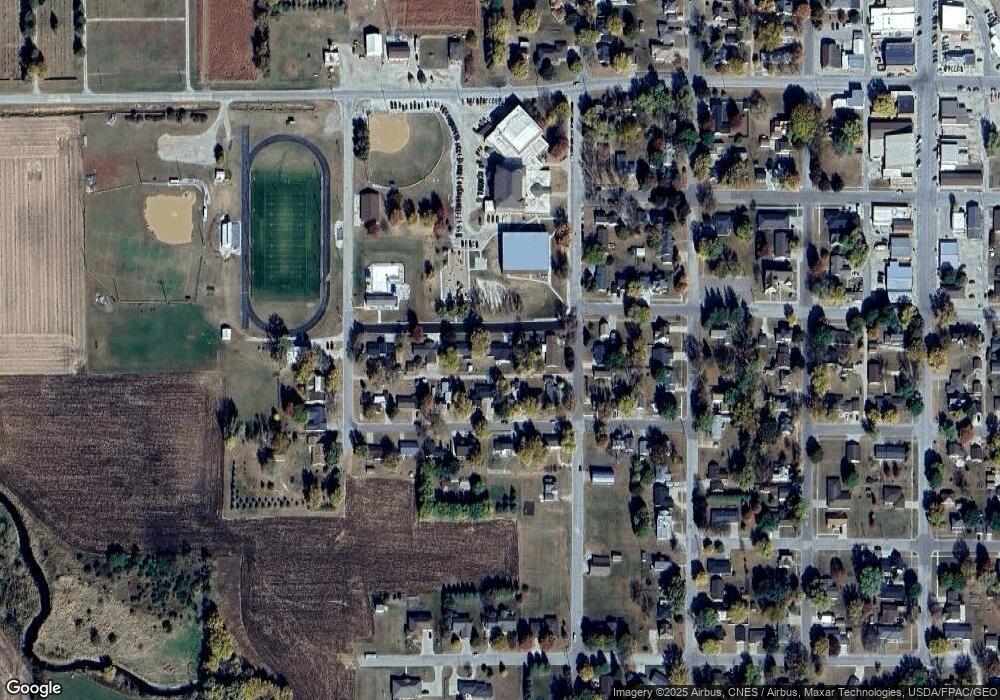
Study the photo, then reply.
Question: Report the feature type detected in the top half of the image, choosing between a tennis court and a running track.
running track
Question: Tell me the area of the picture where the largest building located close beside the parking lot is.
top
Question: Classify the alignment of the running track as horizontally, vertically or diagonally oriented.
vertically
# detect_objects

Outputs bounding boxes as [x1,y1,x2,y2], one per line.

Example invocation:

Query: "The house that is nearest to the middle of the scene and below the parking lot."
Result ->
[490,342,513,364]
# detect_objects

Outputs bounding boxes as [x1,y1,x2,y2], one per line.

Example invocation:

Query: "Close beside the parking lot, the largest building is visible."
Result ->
[485,105,551,214]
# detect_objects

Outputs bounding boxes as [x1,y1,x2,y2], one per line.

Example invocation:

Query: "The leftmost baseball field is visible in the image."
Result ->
[145,191,195,244]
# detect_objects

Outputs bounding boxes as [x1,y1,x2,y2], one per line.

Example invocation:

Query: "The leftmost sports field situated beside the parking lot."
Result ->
[252,142,322,328]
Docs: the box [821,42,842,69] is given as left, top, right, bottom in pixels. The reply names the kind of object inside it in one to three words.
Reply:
building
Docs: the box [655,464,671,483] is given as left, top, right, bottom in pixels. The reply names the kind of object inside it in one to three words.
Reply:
house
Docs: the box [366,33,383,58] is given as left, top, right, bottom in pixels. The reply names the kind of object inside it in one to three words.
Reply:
barn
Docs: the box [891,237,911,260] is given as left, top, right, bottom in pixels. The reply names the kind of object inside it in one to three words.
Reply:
building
